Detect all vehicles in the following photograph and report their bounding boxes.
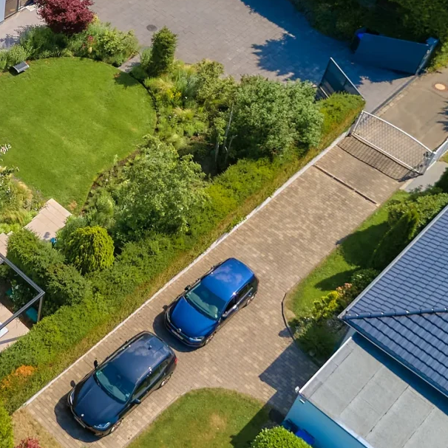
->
[63,330,181,440]
[154,257,263,354]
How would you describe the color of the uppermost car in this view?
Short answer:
blue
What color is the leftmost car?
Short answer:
blue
